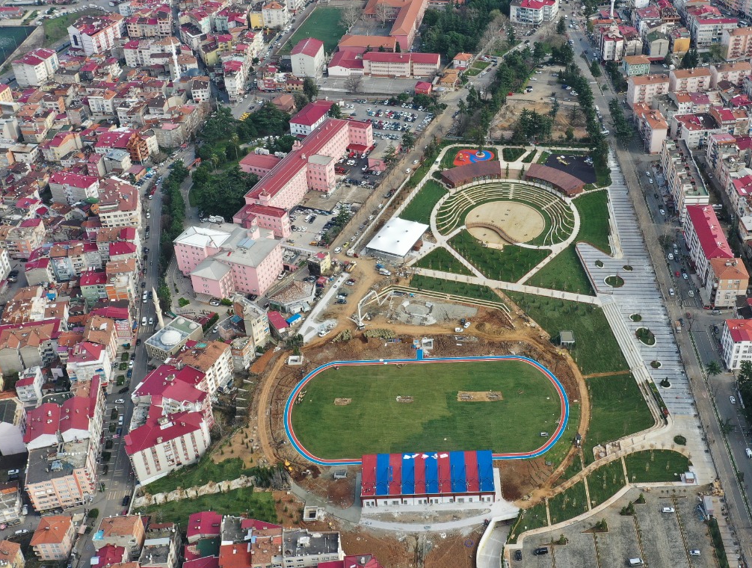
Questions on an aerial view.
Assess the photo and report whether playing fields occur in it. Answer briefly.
Yes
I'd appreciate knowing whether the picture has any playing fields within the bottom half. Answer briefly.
Yes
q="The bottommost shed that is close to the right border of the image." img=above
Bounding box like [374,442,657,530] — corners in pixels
[702,494,716,520]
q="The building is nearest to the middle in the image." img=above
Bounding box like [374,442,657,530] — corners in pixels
[307,248,332,276]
